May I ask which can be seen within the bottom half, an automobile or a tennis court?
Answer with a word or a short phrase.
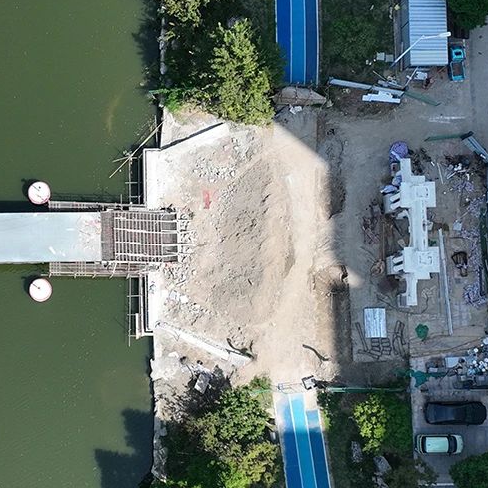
automobile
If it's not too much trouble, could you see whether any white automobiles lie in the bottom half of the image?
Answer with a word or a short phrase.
No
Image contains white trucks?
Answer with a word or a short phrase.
No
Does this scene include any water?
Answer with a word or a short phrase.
Yes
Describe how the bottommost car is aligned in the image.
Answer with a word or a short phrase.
from left to right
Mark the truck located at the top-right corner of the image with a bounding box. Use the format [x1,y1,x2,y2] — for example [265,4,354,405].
[443,42,468,81]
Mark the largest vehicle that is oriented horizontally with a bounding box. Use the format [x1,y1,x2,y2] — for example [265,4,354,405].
[421,399,486,428]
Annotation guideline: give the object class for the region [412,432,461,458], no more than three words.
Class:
car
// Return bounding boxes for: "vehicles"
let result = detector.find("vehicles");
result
[421,399,486,428]
[412,432,461,458]
[443,42,468,81]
